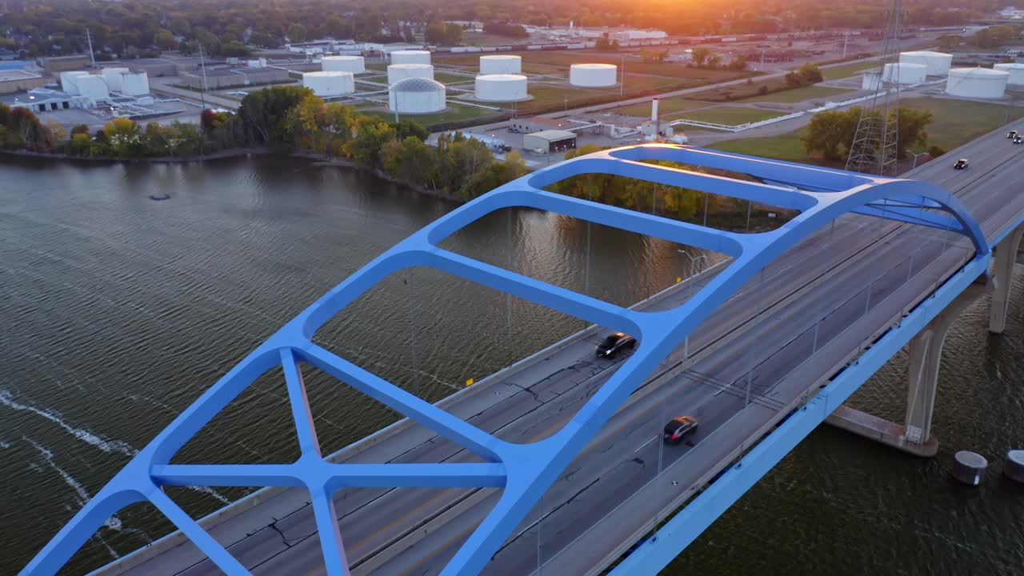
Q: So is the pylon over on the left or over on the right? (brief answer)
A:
right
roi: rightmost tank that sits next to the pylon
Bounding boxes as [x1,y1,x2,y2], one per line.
[937,64,1020,99]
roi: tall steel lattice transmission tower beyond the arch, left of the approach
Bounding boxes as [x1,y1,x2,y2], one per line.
[847,0,923,177]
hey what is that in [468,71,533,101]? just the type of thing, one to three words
storage tank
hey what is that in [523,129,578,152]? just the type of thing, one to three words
building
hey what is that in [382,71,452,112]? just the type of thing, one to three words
storage tank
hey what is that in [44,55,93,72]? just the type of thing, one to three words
building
